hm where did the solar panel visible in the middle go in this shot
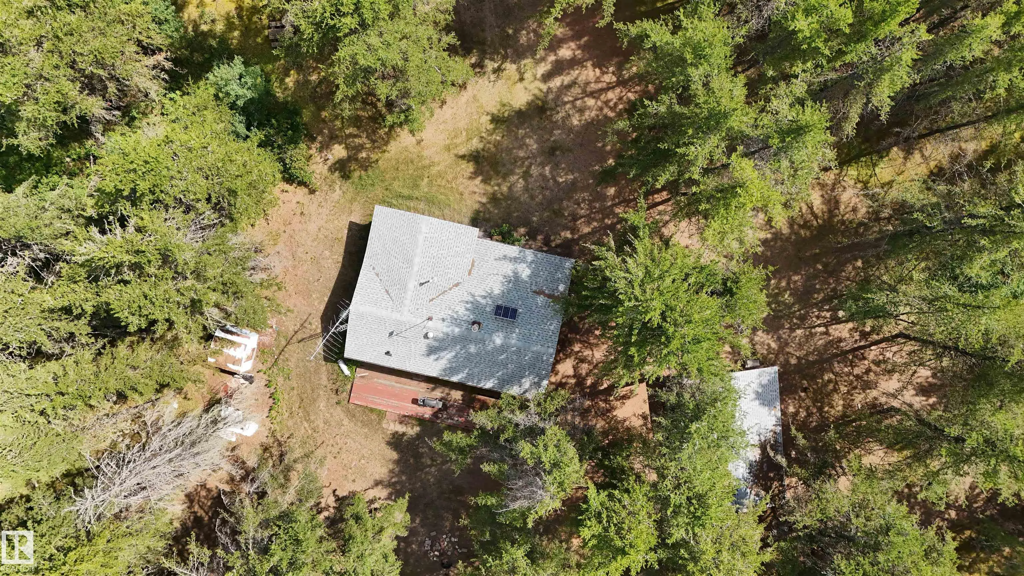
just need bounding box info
[494,303,517,321]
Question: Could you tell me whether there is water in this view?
No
